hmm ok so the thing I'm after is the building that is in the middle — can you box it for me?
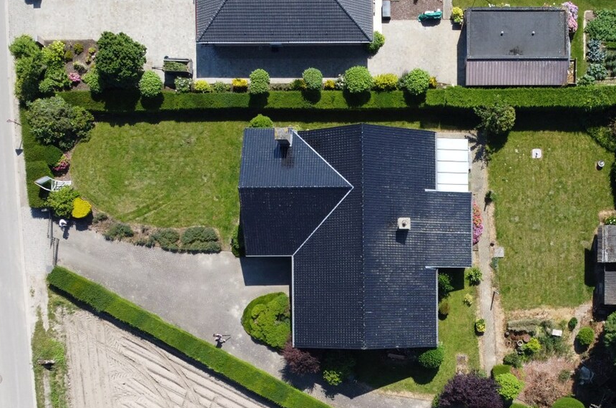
[238,123,473,350]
